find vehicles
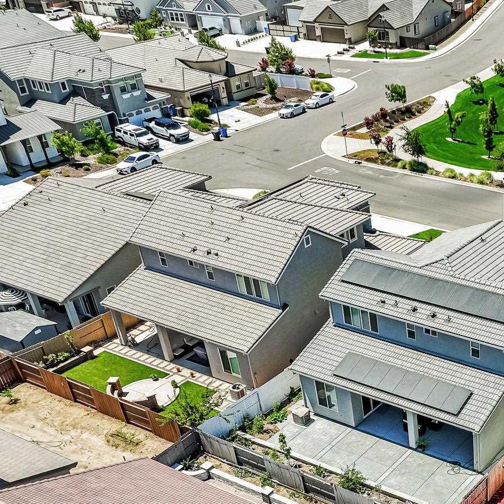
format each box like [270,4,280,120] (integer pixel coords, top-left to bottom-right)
[44,4,71,19]
[114,120,161,149]
[146,114,193,142]
[304,88,337,108]
[286,57,319,72]
[110,149,161,174]
[272,97,310,118]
